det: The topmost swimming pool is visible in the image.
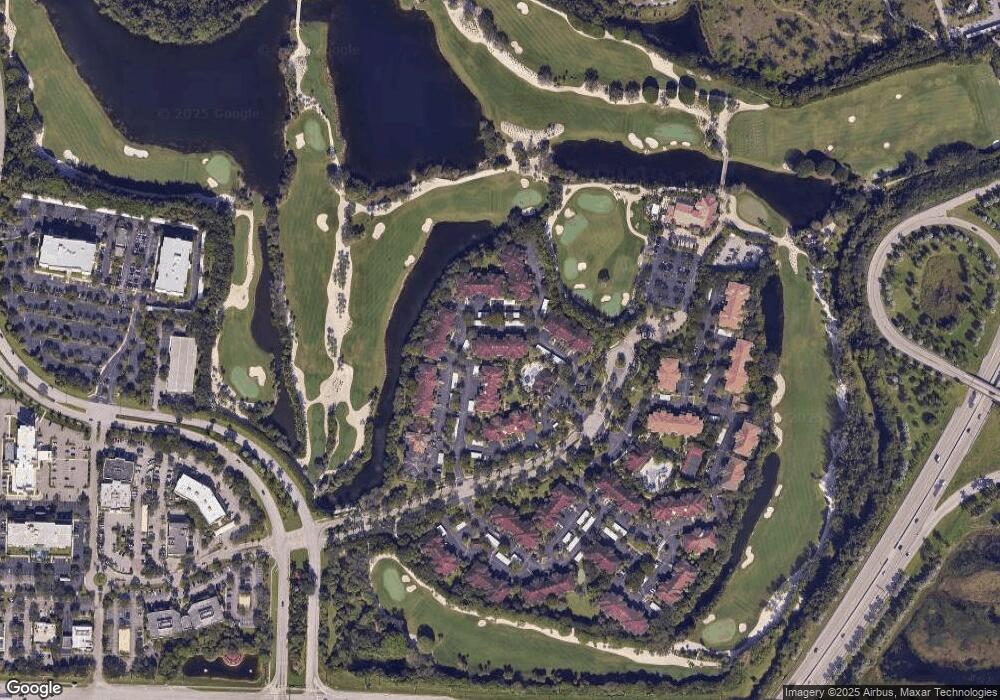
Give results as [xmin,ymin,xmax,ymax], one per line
[521,360,545,391]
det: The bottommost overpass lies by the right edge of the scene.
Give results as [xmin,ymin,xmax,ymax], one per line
[892,343,1000,404]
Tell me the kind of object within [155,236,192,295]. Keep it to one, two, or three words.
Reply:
building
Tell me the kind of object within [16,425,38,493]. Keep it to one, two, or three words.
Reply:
building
